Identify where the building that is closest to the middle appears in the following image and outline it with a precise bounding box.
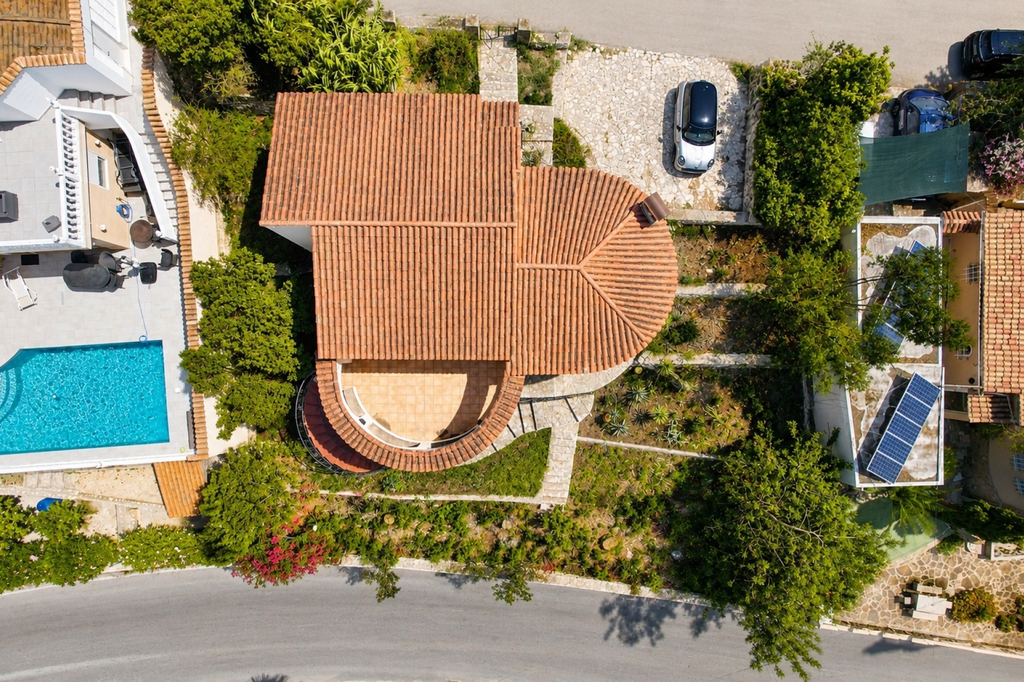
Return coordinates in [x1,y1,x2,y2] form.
[257,92,681,473]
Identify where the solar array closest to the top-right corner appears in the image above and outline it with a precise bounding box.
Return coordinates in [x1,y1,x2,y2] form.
[858,240,942,350]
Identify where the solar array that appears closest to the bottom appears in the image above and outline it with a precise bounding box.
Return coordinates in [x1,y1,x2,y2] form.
[848,371,941,485]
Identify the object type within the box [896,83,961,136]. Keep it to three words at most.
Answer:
car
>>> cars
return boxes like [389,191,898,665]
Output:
[672,73,729,175]
[896,83,961,136]
[950,28,1024,90]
